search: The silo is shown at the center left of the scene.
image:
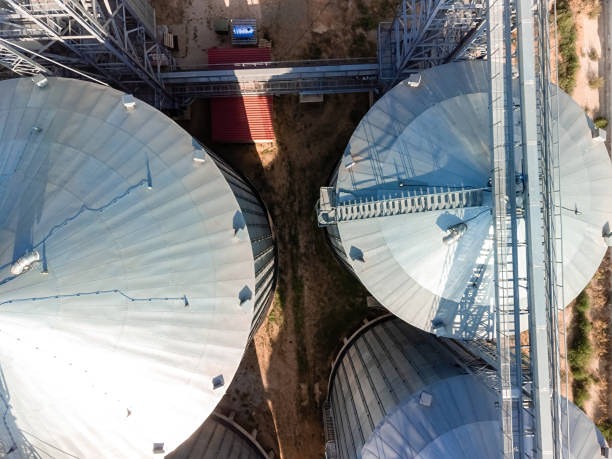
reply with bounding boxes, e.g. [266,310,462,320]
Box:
[0,78,278,459]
